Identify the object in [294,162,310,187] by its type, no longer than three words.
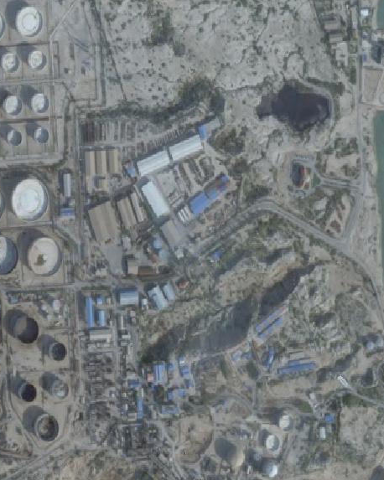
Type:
building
